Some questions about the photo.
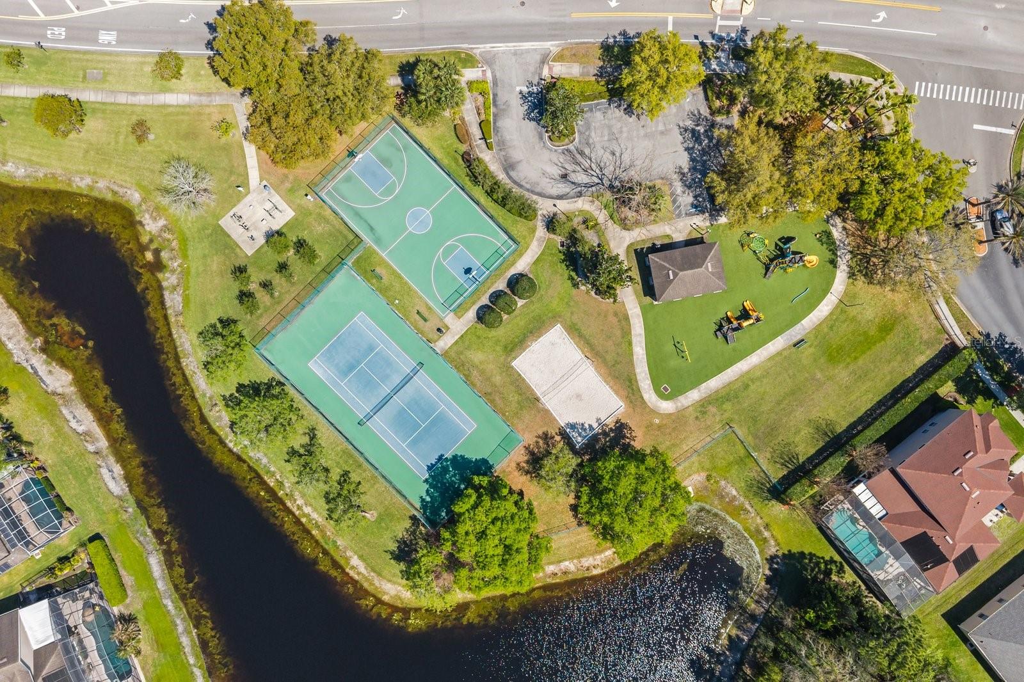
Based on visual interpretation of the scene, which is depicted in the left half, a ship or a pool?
pool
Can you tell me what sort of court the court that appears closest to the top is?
basketball court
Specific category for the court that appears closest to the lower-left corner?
tennis court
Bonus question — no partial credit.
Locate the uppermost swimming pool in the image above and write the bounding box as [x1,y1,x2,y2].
[0,466,73,547]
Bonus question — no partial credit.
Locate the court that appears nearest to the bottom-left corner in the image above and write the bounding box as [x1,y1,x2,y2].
[258,263,523,530]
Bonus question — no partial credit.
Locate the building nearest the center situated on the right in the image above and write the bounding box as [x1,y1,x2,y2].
[647,242,727,304]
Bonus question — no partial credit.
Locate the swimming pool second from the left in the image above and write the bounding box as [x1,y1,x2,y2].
[58,584,139,682]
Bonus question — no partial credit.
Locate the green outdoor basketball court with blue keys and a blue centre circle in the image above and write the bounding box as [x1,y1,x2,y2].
[315,116,520,316]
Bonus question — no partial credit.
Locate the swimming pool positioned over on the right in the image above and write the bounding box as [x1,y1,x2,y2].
[826,499,935,606]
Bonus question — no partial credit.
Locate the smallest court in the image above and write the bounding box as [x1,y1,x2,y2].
[512,324,624,447]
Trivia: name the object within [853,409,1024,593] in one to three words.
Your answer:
house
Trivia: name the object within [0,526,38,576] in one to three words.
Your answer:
house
